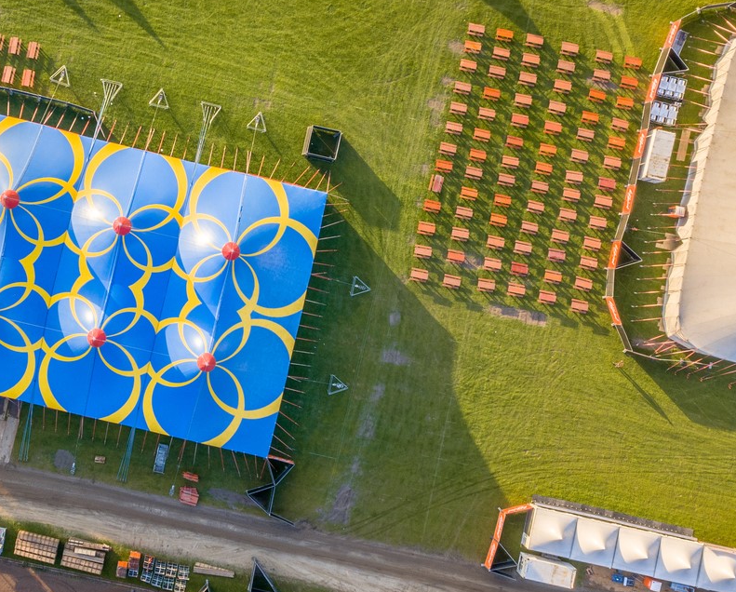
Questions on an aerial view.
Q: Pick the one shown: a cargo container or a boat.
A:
cargo container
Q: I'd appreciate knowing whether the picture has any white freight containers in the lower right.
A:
Yes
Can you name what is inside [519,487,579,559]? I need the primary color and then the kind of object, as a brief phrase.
white tent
